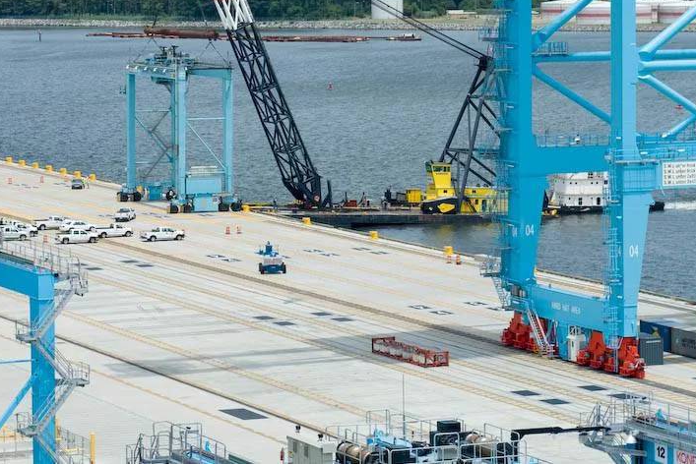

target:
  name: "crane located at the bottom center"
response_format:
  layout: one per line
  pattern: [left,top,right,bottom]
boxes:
[148,332,650,464]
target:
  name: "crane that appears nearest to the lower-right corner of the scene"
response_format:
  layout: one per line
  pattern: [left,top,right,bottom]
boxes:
[533,389,696,464]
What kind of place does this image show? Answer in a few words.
port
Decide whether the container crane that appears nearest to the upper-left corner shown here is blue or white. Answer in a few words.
blue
